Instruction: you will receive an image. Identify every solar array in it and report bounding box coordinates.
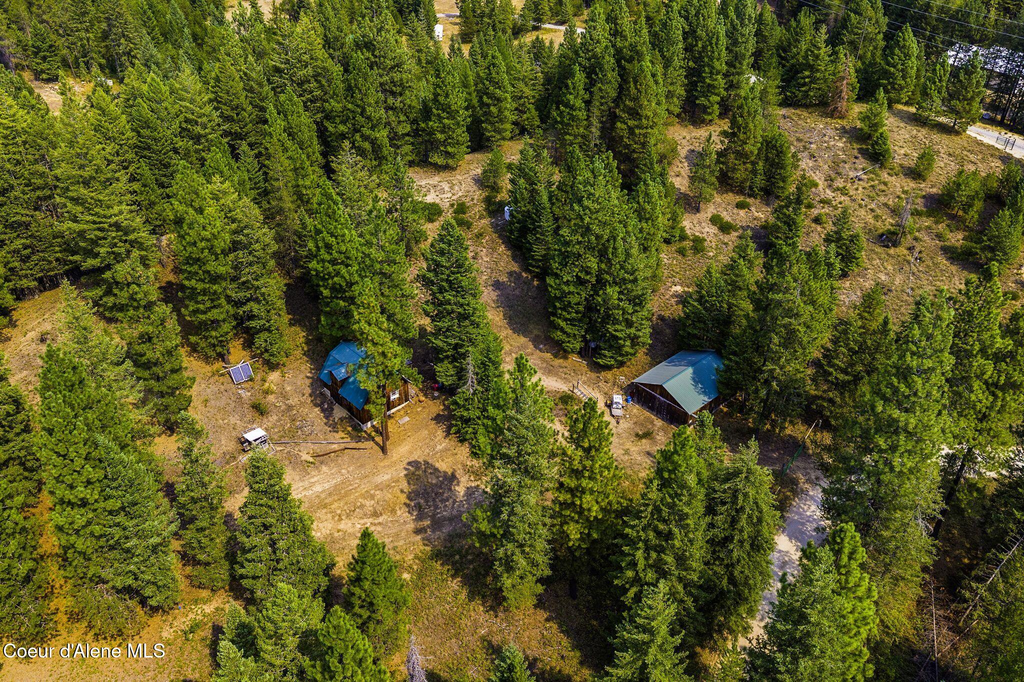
[228,363,254,386]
